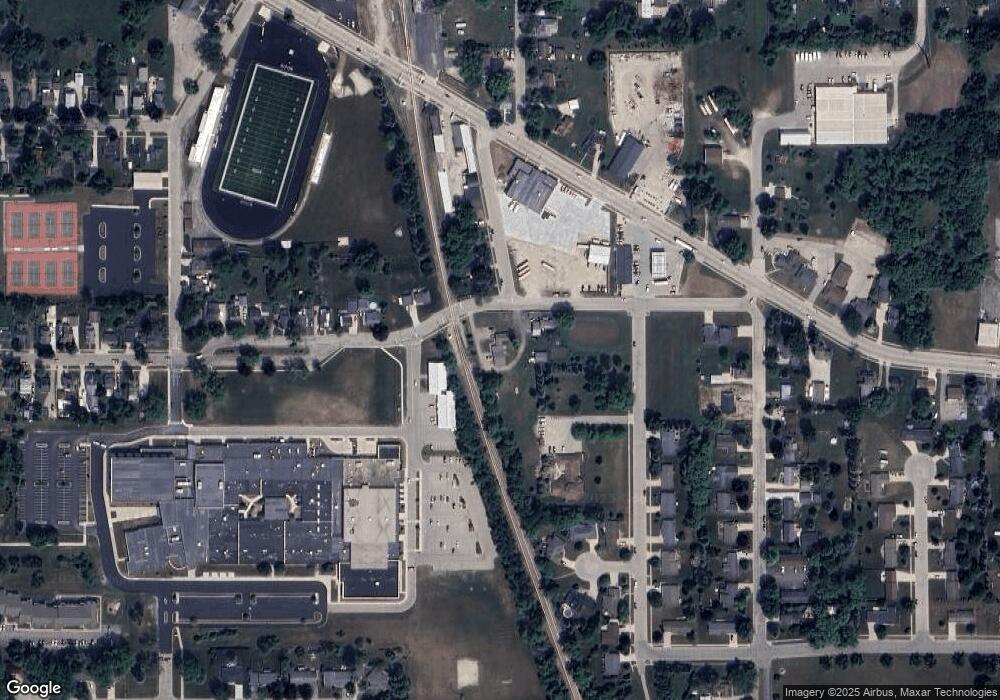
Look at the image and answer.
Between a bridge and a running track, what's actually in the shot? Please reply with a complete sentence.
Visible in the photo is a running track.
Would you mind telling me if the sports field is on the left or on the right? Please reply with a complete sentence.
The sports field sits on the left side.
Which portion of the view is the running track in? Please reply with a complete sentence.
You can find the running track in the top left area of the picture.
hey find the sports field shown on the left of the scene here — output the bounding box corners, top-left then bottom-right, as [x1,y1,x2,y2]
[202,14,330,239]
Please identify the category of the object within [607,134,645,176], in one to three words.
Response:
building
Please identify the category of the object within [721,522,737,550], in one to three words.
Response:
house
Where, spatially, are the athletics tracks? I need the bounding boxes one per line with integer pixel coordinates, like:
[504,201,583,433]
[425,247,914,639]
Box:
[202,14,330,239]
